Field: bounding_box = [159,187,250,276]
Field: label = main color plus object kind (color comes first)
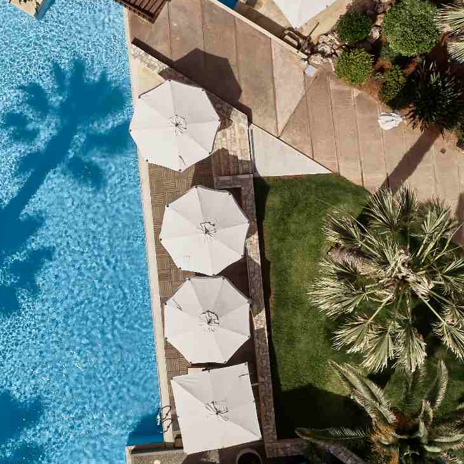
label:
white umbrella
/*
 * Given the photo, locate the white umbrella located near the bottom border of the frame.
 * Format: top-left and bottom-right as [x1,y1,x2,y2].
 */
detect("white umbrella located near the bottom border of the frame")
[170,362,264,456]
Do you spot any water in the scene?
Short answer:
Yes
